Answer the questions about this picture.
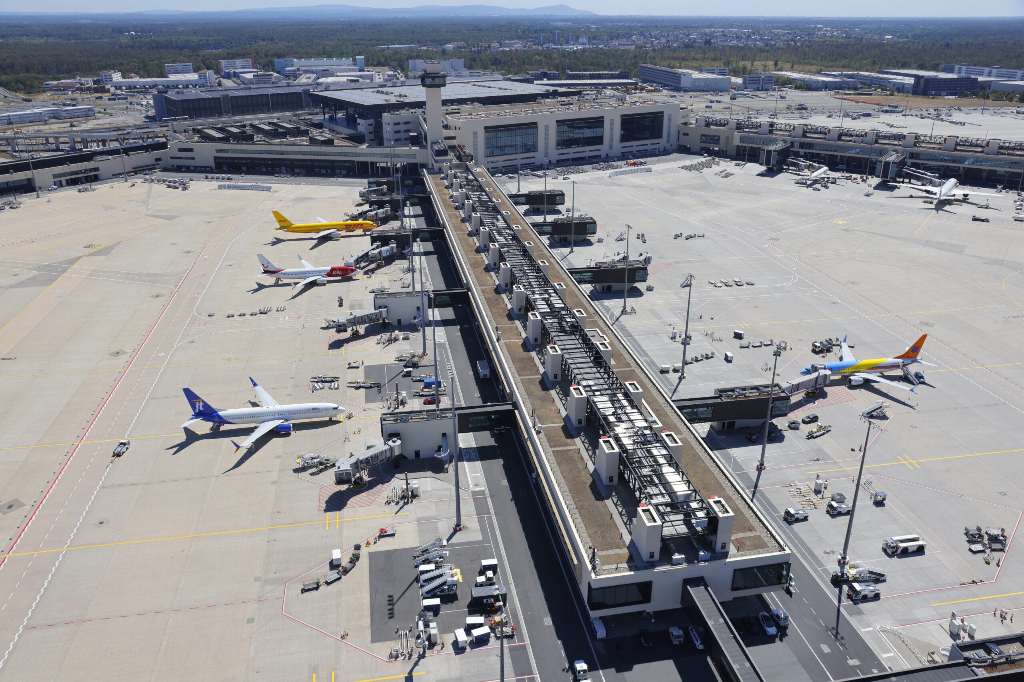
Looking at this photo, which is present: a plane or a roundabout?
plane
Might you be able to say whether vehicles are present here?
Yes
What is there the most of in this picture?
paved ground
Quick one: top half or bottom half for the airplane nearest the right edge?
top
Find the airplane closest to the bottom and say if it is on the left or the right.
left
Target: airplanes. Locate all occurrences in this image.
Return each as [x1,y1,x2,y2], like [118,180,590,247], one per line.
[891,178,1013,201]
[259,252,362,284]
[182,375,346,454]
[277,208,377,237]
[799,333,937,396]
[790,166,849,181]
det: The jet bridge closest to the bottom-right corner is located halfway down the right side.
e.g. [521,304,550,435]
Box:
[790,365,830,402]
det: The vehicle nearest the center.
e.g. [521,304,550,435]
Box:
[476,359,490,376]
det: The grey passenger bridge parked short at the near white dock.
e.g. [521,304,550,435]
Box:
[330,435,403,494]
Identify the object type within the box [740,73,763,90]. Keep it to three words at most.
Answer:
building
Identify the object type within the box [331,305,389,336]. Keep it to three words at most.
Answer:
jet bridge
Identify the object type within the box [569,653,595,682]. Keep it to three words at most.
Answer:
work vehicle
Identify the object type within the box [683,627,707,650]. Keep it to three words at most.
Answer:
car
